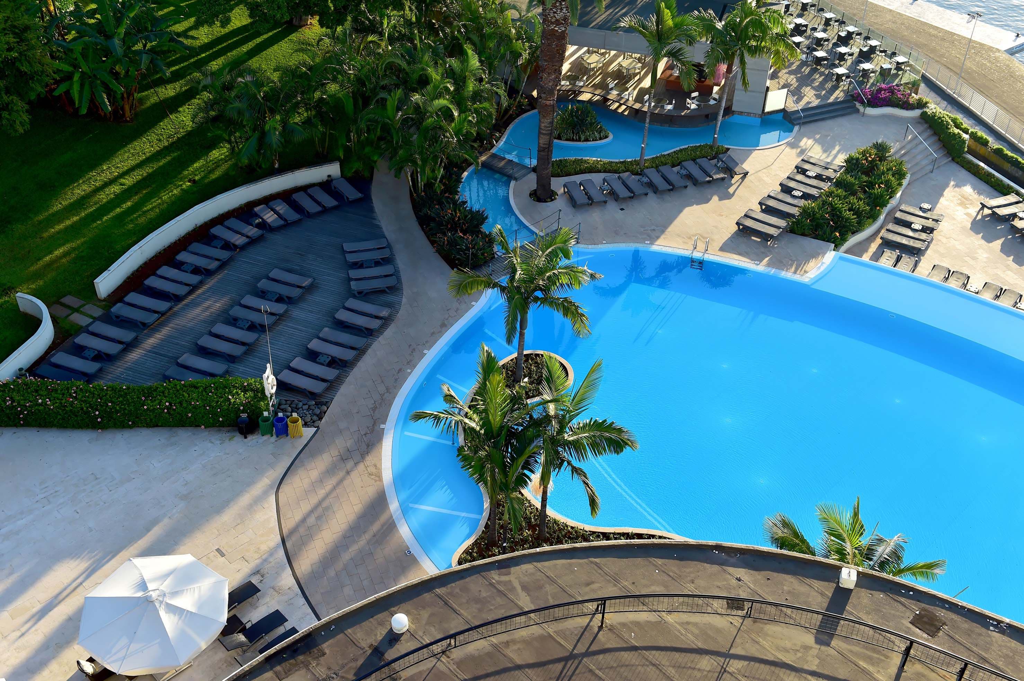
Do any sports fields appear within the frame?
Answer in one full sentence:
No, I can see no sports field in this picture.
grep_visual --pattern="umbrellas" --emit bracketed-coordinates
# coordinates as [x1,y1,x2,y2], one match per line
[76,552,230,678]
